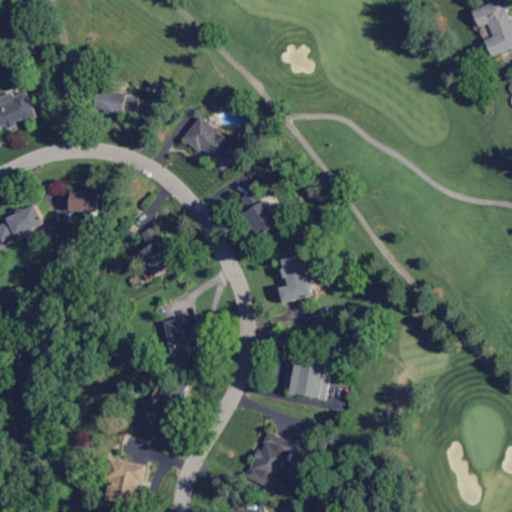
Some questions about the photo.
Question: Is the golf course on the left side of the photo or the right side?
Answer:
right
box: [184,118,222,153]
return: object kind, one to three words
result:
house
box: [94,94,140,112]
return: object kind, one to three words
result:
house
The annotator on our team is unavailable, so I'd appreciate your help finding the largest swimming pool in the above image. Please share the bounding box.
[220,112,240,125]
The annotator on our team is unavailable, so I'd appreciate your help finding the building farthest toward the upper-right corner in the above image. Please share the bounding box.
[472,2,512,57]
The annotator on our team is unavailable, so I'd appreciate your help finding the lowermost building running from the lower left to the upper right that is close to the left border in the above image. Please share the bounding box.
[0,204,42,244]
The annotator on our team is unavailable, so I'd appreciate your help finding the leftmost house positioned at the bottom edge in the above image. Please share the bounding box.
[106,456,148,498]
